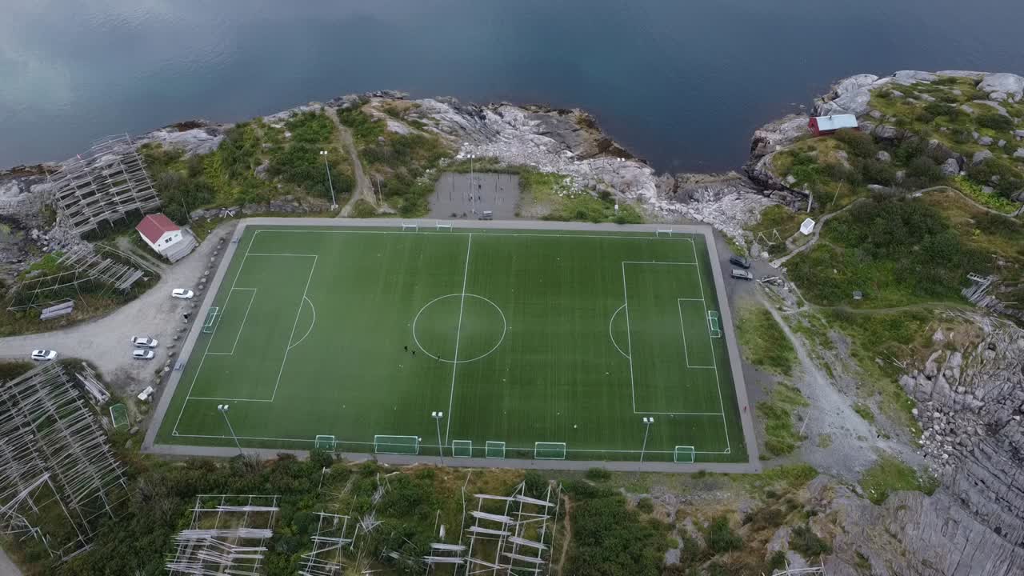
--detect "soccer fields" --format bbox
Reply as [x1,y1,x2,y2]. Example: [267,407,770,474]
[139,217,760,474]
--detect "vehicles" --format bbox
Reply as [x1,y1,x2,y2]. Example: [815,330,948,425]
[130,348,154,360]
[128,336,157,349]
[29,350,55,361]
[732,268,753,280]
[170,288,193,300]
[730,254,751,267]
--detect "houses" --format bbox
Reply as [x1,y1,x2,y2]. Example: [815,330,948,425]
[136,214,198,264]
[809,112,857,137]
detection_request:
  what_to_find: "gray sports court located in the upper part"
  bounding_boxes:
[429,173,522,221]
